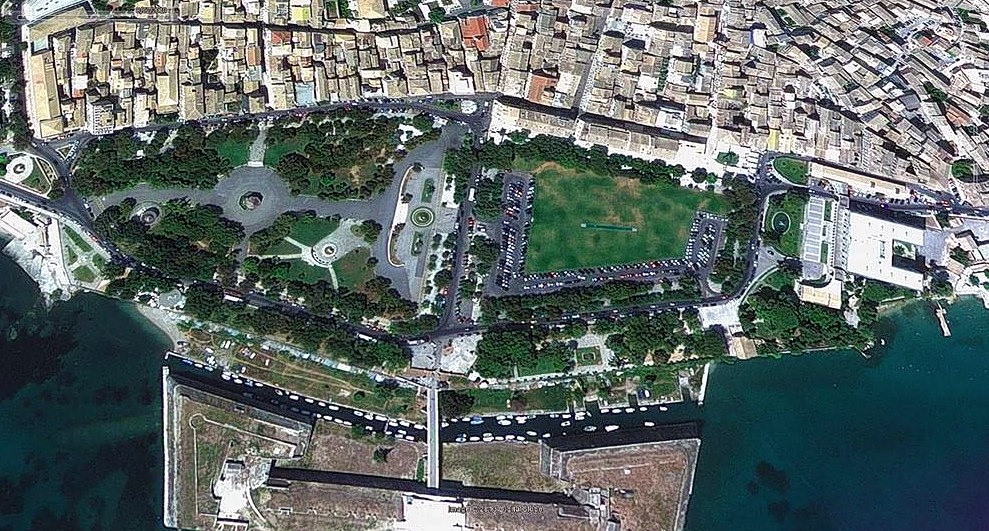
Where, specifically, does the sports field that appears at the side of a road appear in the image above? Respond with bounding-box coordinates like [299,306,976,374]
[525,157,730,273]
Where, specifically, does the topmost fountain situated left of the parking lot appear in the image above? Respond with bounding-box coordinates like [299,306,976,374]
[411,206,433,228]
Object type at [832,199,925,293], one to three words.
building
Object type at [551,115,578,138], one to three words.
house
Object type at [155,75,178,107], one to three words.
house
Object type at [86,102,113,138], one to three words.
building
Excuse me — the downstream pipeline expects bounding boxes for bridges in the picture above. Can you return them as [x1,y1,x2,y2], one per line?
[425,375,440,489]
